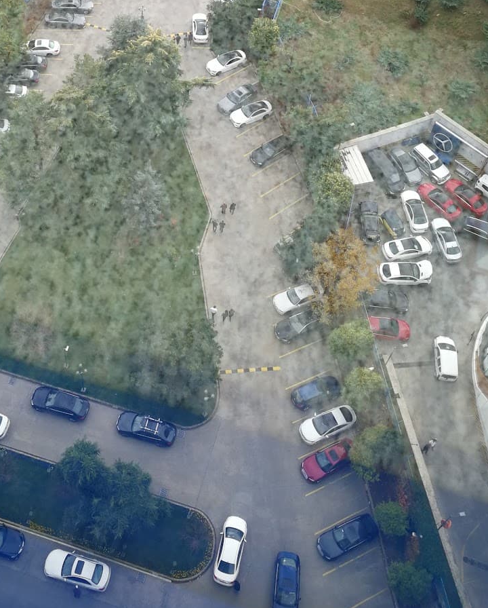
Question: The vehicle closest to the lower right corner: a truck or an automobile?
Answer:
automobile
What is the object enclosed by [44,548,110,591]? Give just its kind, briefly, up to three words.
car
